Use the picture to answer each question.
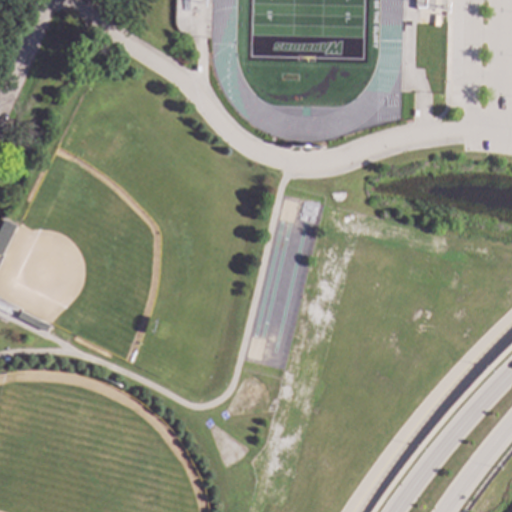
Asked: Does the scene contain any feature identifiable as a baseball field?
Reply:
Yes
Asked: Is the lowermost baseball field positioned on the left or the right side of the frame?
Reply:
left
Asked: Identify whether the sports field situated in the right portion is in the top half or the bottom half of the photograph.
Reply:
top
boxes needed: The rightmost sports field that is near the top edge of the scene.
[237,0,380,106]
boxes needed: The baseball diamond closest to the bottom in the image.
[0,369,205,512]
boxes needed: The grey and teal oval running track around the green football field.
[211,0,402,142]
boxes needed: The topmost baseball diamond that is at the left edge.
[0,148,162,362]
